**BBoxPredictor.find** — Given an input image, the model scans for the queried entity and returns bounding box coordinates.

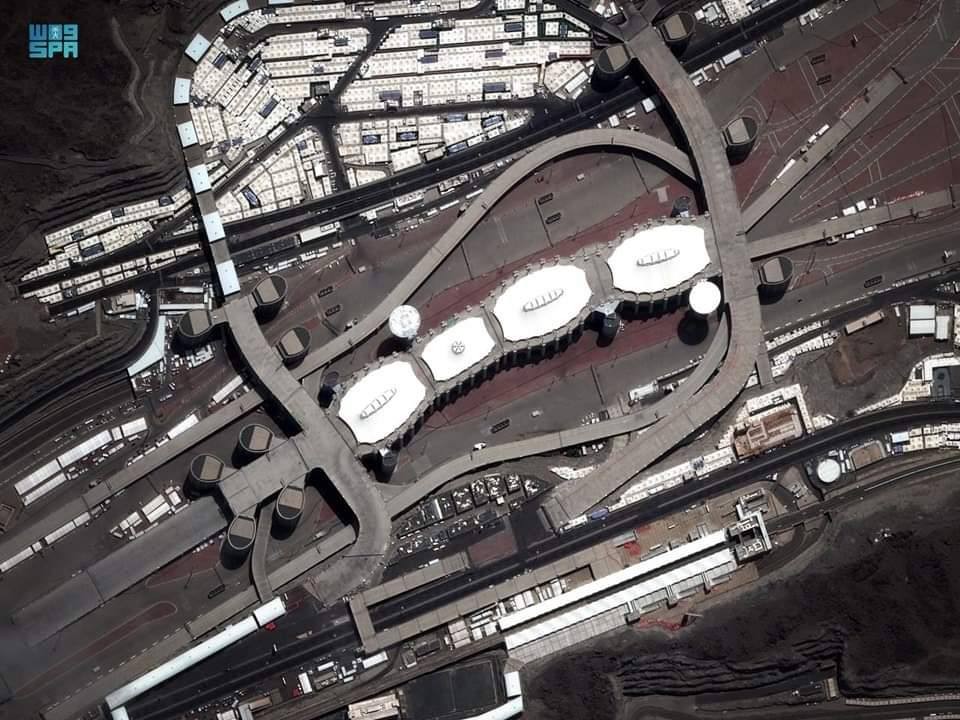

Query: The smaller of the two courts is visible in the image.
[847,439,889,472]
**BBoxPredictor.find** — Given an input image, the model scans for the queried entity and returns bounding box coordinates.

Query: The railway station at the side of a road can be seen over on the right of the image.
[498,488,771,673]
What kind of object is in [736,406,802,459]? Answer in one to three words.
building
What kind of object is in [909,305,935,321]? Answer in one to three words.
building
